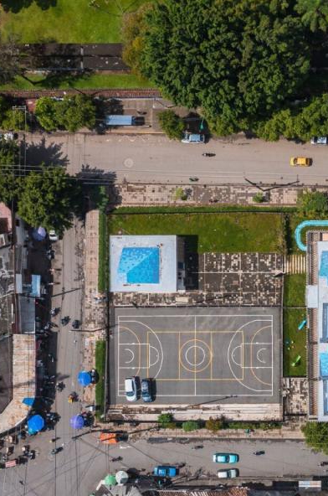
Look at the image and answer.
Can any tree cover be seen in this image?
Yes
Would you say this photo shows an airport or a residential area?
residential area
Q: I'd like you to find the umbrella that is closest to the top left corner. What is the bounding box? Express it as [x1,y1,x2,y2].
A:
[31,227,47,241]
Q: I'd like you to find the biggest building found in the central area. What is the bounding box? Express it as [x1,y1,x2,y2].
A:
[109,235,184,292]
